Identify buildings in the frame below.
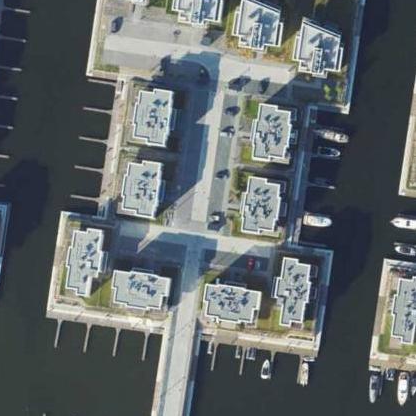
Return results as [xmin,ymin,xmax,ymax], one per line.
[291,18,345,76]
[132,90,177,146]
[273,258,317,326]
[110,267,171,310]
[65,229,106,297]
[122,162,167,218]
[388,277,416,344]
[231,0,286,51]
[240,177,288,234]
[170,0,224,26]
[202,281,263,323]
[250,104,299,161]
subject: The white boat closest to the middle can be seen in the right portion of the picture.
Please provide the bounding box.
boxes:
[303,214,331,227]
